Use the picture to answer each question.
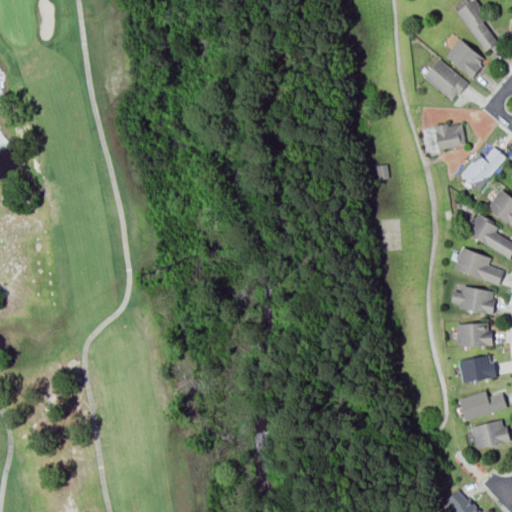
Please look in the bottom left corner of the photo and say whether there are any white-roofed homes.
No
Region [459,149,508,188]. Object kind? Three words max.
house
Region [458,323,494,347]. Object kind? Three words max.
house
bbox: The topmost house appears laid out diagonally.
[452,0,498,52]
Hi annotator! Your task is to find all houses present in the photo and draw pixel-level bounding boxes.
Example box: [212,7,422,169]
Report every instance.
[459,149,508,188]
[425,58,470,101]
[460,358,499,384]
[456,246,506,285]
[458,323,494,347]
[452,0,498,52]
[446,38,488,78]
[442,489,480,512]
[458,392,510,422]
[450,286,496,316]
[470,420,510,448]
[470,214,512,261]
[488,190,512,232]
